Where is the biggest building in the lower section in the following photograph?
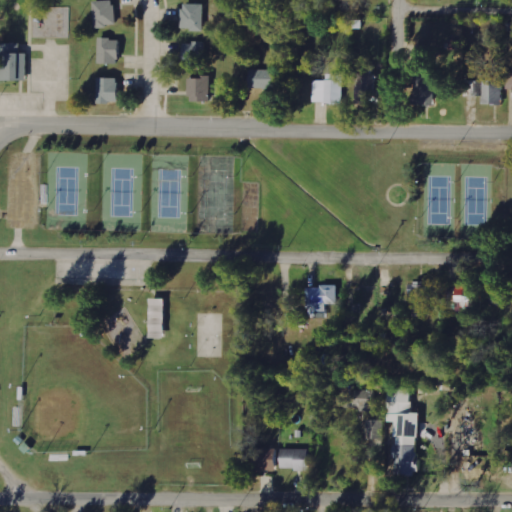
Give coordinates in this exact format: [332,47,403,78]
[386,391,420,474]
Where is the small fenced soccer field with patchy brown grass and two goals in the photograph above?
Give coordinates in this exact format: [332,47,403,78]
[158,370,229,485]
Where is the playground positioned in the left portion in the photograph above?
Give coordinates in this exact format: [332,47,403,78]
[107,307,143,357]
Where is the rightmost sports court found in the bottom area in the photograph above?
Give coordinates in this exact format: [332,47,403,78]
[197,313,222,358]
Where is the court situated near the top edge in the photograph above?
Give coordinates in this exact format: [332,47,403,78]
[32,8,69,38]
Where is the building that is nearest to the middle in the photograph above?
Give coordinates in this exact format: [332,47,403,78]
[305,285,338,318]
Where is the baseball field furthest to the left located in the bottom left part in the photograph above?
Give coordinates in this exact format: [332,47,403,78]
[20,324,149,454]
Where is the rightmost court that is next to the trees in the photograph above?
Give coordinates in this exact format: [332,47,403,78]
[461,164,492,238]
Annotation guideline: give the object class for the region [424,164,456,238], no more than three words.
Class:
tennis court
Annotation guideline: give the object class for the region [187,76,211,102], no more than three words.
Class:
house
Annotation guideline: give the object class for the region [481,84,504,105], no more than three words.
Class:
house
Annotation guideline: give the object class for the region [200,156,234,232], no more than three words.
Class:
sports court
